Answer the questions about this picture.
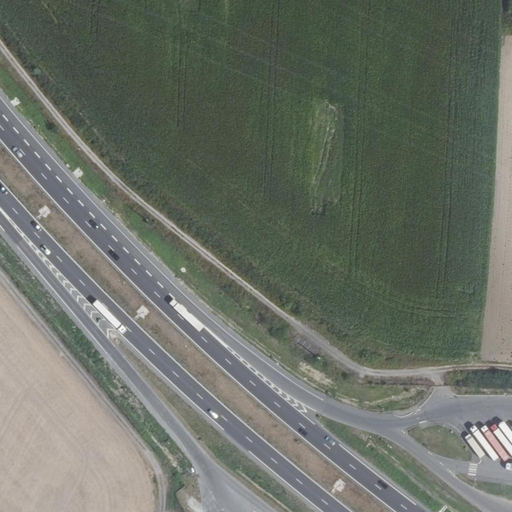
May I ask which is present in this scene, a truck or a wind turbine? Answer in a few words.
truck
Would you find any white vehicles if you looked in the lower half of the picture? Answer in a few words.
Yes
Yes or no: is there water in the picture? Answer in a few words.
No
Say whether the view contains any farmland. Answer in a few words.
Yes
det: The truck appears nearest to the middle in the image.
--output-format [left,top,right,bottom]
[170,300,203,332]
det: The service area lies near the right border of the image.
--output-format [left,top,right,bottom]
[338,385,512,512]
